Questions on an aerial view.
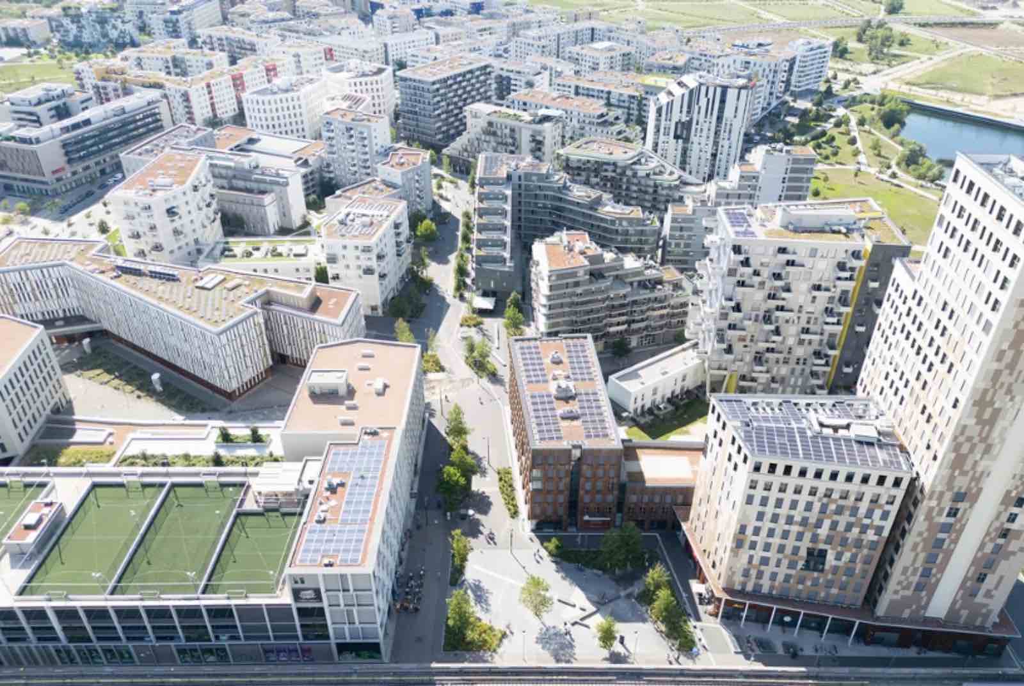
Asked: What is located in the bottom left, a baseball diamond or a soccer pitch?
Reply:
soccer pitch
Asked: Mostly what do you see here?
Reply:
buildings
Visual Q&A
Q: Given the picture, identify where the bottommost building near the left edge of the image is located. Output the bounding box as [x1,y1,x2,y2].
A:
[0,453,325,660]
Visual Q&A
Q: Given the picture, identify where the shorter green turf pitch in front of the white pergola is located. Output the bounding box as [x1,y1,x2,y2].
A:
[191,499,307,595]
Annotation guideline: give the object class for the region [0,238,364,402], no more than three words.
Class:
building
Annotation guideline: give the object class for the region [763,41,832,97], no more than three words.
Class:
house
